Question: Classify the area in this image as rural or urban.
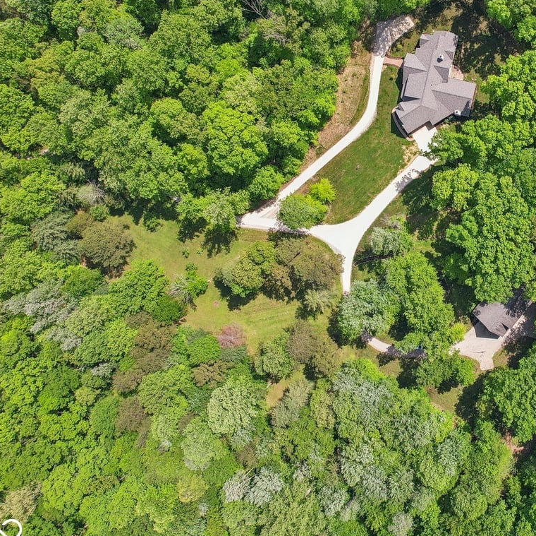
rural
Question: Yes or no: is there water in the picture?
No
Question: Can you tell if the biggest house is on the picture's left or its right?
right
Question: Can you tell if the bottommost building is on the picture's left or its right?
right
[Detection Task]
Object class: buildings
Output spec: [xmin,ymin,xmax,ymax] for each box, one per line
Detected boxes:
[475,287,527,337]
[393,28,478,135]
